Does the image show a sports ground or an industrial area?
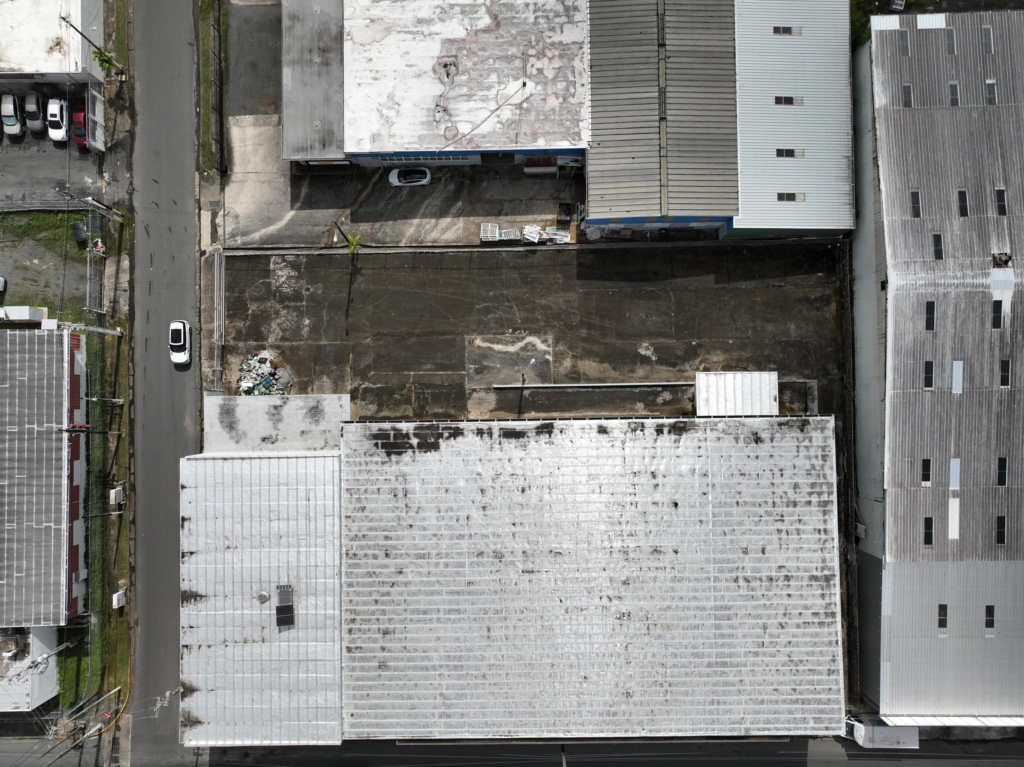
industrial area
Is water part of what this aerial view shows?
No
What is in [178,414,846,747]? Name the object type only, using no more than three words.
warehouse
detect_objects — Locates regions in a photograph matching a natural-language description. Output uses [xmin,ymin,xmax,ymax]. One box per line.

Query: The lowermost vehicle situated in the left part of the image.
[166,321,193,366]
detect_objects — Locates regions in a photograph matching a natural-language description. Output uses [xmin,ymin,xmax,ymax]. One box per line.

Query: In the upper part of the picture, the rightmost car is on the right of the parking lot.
[386,165,432,188]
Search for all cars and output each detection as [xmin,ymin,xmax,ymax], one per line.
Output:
[43,96,70,141]
[21,91,45,132]
[67,104,91,147]
[386,165,432,188]
[166,321,193,366]
[0,94,27,137]
[0,276,5,293]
